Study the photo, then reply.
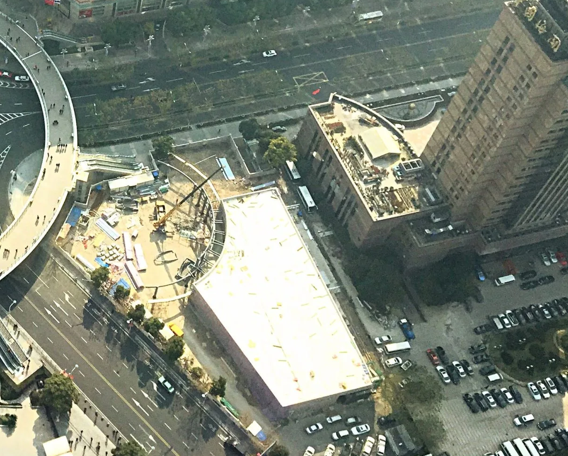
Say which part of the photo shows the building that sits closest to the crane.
left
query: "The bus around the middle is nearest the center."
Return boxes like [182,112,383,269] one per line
[295,189,316,215]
